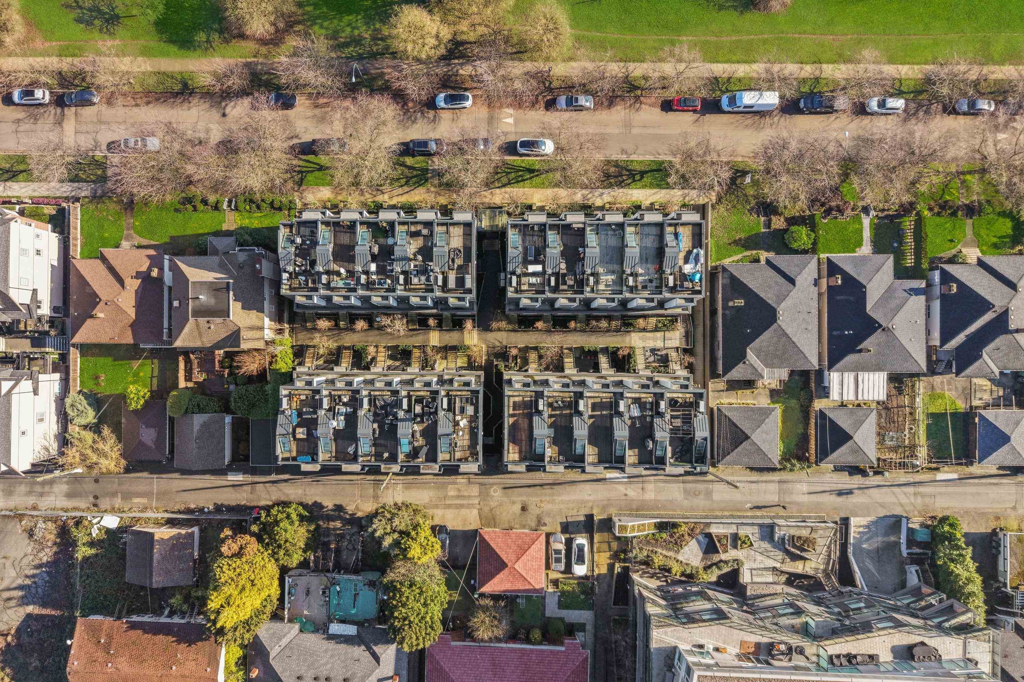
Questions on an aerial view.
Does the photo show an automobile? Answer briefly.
Yes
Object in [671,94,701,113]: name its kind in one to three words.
car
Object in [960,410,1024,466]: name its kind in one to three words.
building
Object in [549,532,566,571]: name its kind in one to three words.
car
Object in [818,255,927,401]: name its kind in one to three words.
house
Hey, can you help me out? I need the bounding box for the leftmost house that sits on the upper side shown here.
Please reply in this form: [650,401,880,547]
[0,202,70,330]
